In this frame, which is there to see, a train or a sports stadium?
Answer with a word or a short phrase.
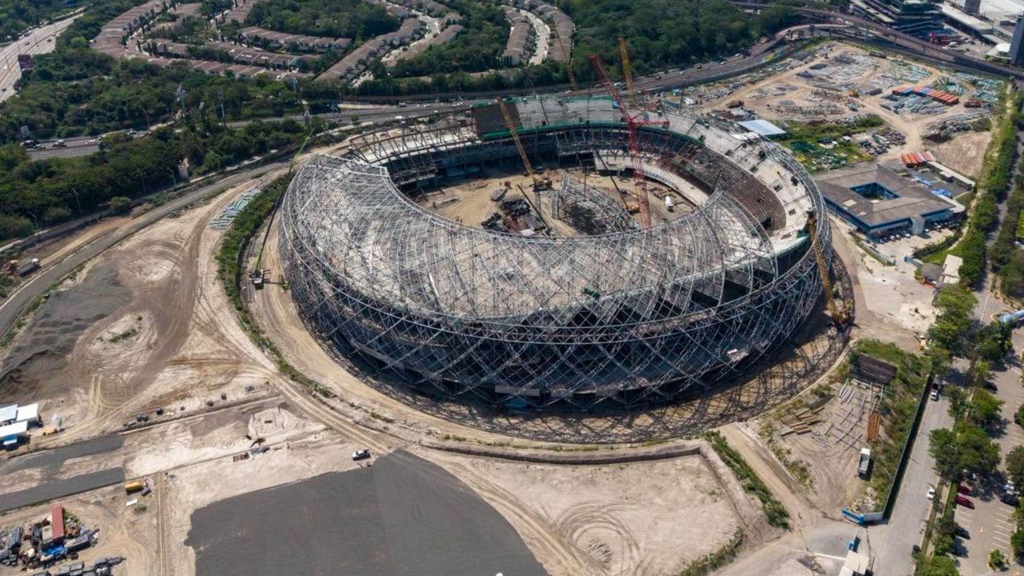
sports stadium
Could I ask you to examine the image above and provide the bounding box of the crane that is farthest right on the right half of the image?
[800,212,861,326]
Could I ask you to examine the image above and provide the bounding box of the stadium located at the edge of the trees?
[278,92,835,411]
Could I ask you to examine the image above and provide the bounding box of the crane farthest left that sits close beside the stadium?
[241,134,311,290]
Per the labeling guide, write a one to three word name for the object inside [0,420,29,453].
building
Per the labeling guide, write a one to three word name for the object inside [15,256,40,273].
vehicle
